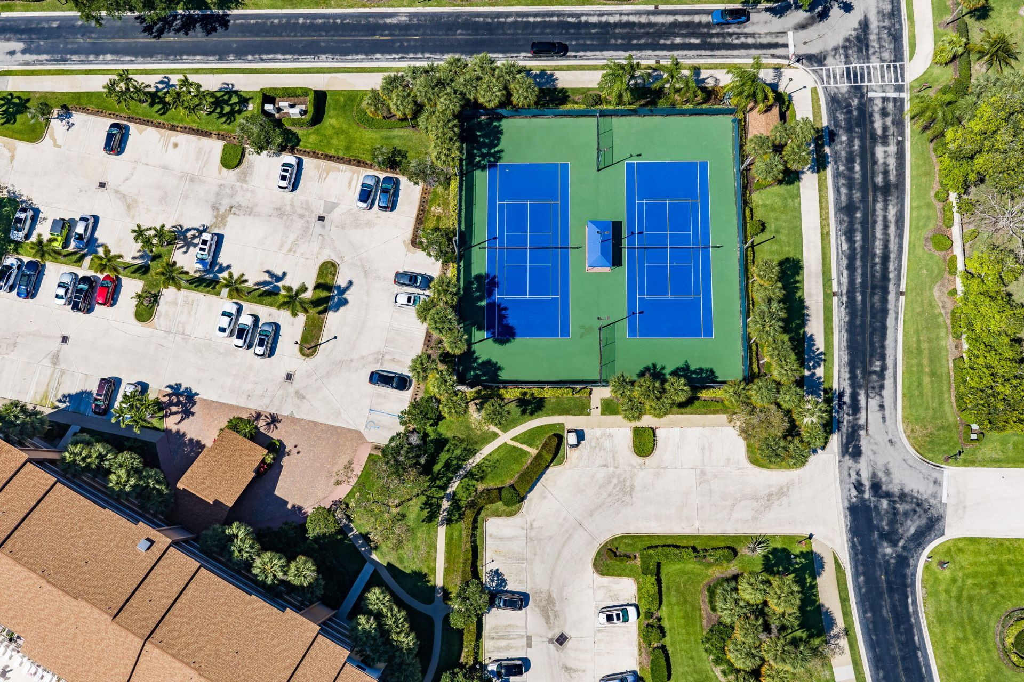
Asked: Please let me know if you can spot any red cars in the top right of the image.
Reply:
No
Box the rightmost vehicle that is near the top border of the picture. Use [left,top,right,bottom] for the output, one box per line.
[711,7,750,26]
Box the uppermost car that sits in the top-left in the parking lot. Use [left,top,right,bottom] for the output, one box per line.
[103,123,125,155]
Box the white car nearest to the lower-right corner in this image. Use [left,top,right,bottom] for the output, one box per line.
[598,604,639,624]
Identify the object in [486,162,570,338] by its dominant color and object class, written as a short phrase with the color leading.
blue tennis court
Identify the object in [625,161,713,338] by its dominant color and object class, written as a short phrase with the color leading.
blue tennis court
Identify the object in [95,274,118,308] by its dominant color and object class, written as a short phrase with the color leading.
red car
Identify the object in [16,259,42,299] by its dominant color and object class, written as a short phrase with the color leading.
blue car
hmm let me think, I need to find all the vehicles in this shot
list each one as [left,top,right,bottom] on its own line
[234,314,257,350]
[217,301,240,338]
[393,292,426,311]
[377,177,399,212]
[490,592,525,611]
[277,155,298,192]
[71,276,97,314]
[0,257,24,293]
[95,274,118,308]
[598,604,639,624]
[103,123,125,155]
[711,7,750,26]
[16,259,42,299]
[567,429,579,449]
[356,175,378,210]
[392,270,431,292]
[253,322,278,359]
[91,378,116,415]
[531,39,568,58]
[11,207,34,241]
[368,370,411,391]
[599,671,640,682]
[194,232,218,271]
[49,218,72,250]
[55,272,78,306]
[487,661,525,681]
[72,214,95,249]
